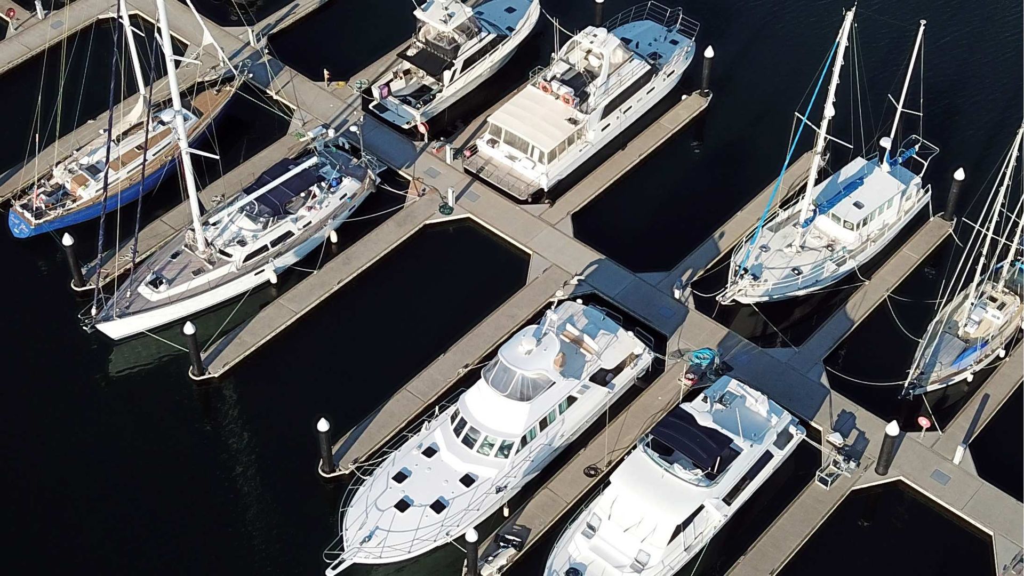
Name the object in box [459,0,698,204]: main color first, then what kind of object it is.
white boat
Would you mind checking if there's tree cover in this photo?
No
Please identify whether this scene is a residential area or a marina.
marina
